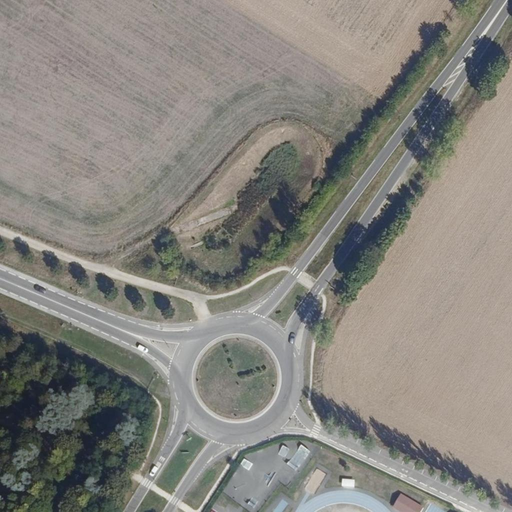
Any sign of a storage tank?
No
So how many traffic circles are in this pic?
1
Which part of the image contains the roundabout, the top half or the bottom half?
bottom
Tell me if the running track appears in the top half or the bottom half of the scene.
bottom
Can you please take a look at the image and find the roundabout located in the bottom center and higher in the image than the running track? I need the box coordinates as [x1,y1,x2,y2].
[141,270,326,496]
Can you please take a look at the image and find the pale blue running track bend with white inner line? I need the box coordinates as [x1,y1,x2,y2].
[294,490,392,512]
